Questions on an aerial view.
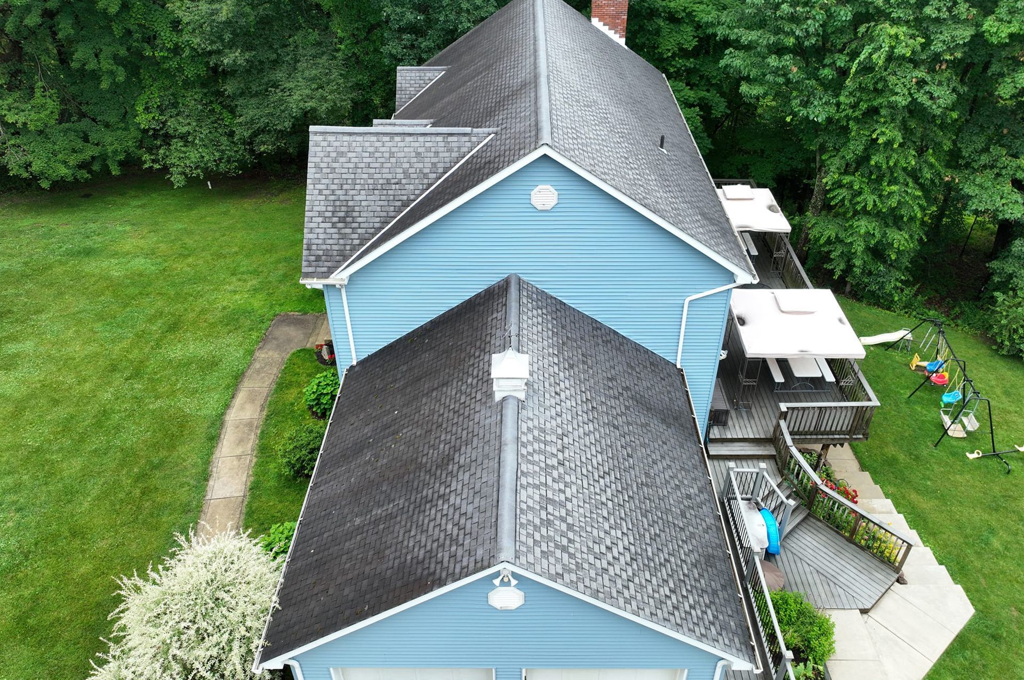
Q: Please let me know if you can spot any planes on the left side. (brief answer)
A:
No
